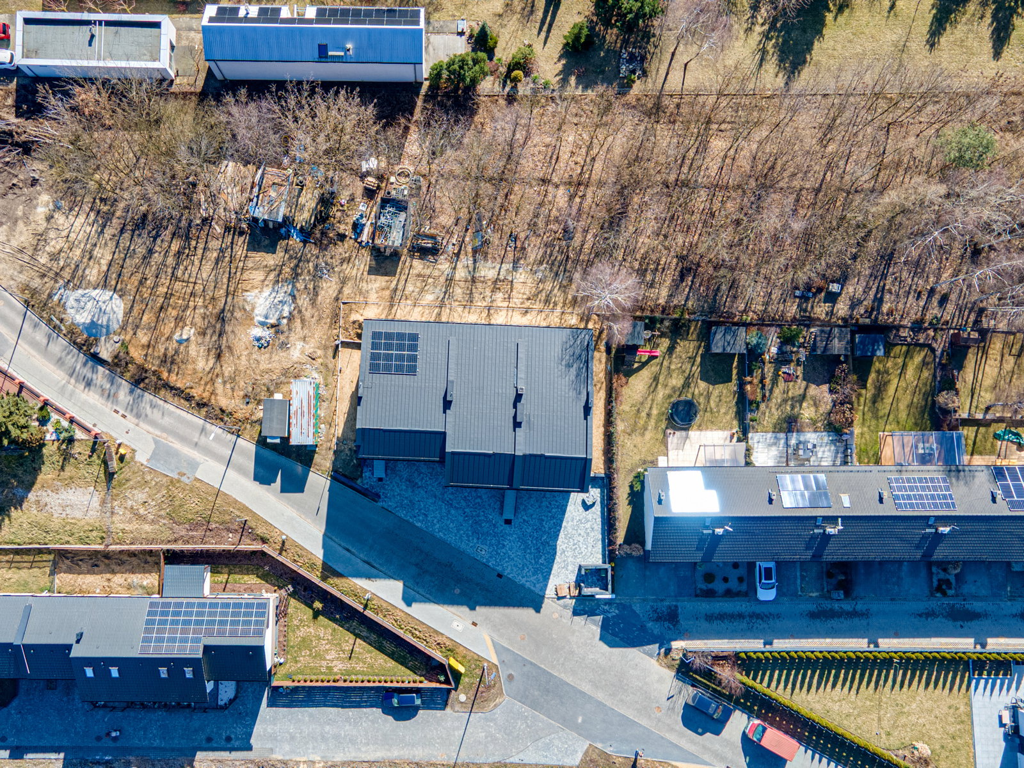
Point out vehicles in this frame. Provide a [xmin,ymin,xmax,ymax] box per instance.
[0,49,18,70]
[0,22,13,42]
[383,690,421,712]
[745,718,802,761]
[686,690,733,722]
[756,562,777,600]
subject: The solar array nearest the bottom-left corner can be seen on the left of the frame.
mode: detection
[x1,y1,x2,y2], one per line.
[138,599,270,653]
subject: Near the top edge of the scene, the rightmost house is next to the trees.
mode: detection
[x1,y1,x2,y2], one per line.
[202,7,425,86]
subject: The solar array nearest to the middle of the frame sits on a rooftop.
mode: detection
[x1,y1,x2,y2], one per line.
[370,330,418,373]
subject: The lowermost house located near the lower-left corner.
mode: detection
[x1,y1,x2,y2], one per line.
[0,565,283,703]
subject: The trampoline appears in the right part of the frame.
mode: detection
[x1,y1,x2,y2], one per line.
[670,397,705,428]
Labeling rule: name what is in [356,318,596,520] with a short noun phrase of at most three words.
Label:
house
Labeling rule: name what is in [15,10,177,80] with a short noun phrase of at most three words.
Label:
building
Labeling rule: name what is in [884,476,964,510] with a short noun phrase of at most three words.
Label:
solar array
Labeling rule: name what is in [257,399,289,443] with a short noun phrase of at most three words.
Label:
shed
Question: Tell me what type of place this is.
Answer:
residential area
